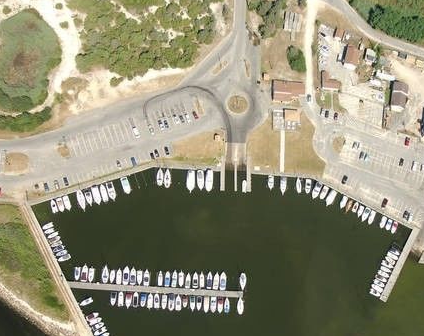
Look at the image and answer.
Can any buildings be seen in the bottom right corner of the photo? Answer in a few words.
No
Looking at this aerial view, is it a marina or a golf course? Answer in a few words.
marina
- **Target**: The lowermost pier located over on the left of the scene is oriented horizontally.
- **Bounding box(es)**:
[69,281,243,297]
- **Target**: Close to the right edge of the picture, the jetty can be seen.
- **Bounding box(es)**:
[380,229,418,302]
